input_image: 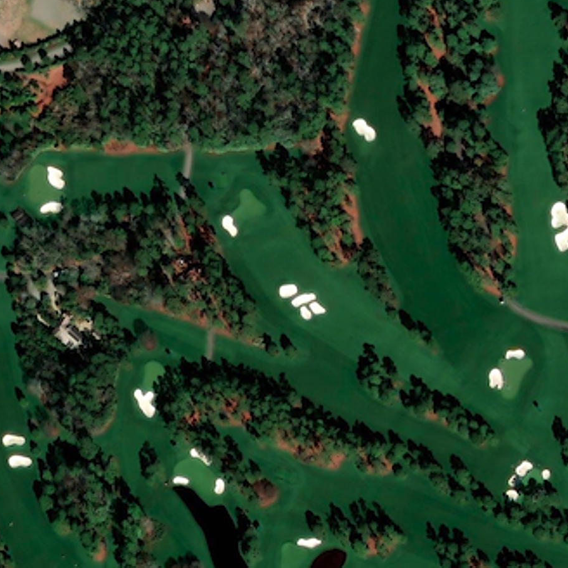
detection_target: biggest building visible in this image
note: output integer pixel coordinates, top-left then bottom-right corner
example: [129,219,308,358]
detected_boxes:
[56,314,82,347]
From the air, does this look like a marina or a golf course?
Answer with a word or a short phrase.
golf course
